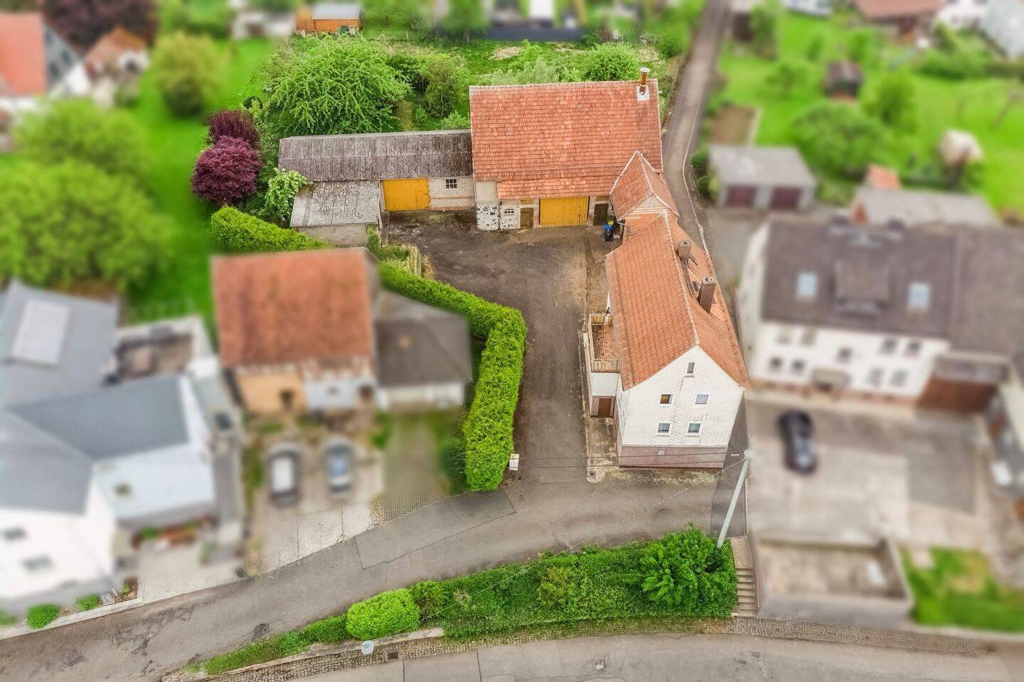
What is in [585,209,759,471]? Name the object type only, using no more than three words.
house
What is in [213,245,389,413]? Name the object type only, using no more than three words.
house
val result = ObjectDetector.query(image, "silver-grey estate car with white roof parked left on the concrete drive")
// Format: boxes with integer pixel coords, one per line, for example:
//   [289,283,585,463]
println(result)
[266,447,302,513]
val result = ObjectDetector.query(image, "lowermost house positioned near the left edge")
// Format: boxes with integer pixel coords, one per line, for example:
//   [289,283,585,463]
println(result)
[0,277,231,597]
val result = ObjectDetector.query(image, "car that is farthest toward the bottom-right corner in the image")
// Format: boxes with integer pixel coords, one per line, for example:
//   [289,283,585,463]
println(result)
[778,413,819,475]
